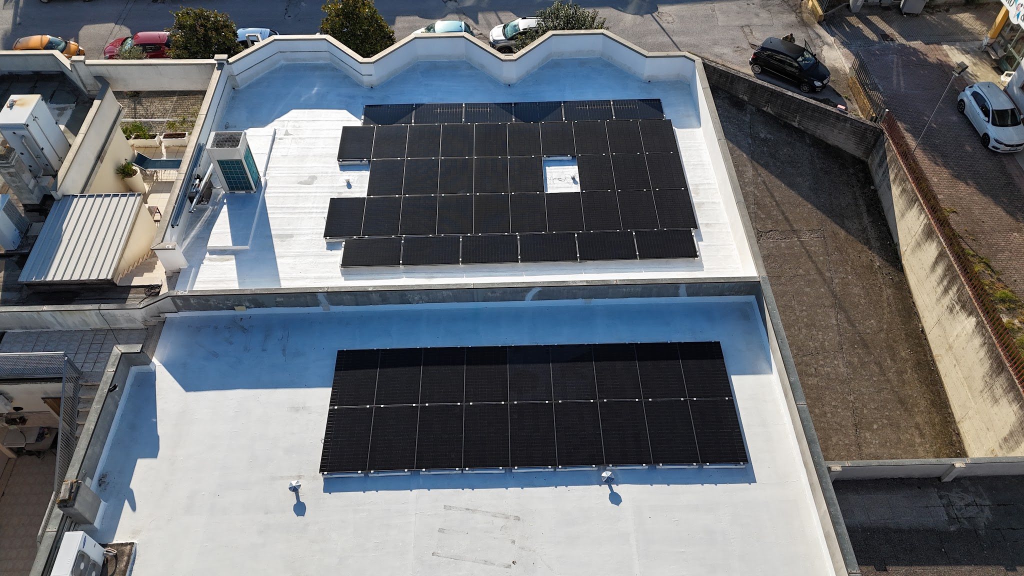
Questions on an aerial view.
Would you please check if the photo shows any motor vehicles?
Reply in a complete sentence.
Yes, the frame does contain a motor vehicle.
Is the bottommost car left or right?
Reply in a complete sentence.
It is on the right.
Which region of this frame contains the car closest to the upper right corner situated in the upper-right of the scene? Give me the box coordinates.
[959,84,1024,154]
